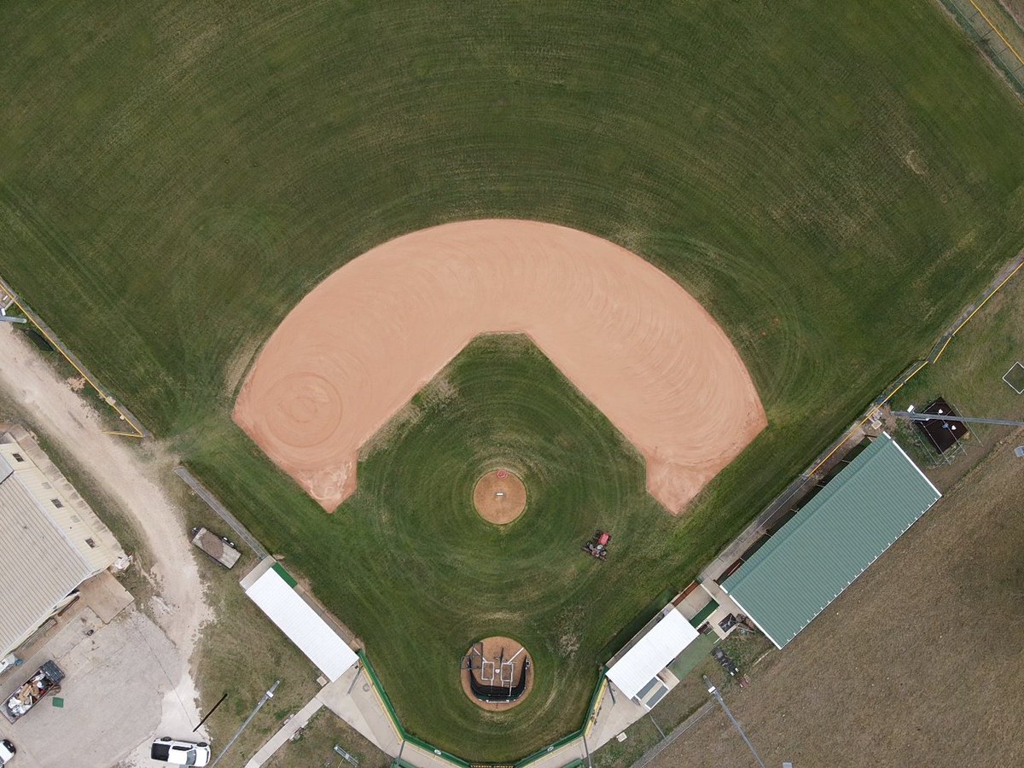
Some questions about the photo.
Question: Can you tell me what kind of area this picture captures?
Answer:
sports ground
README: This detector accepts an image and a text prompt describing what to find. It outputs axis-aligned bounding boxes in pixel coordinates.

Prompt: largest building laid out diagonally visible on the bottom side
[712,430,942,649]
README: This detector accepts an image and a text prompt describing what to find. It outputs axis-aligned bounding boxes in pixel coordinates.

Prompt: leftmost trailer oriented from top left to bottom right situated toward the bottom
[185,527,239,571]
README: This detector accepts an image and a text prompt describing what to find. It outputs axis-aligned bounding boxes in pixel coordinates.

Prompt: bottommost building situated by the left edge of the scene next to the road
[0,423,126,660]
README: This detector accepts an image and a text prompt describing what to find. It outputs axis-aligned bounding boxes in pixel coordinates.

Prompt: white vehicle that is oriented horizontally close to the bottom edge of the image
[149,737,213,768]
